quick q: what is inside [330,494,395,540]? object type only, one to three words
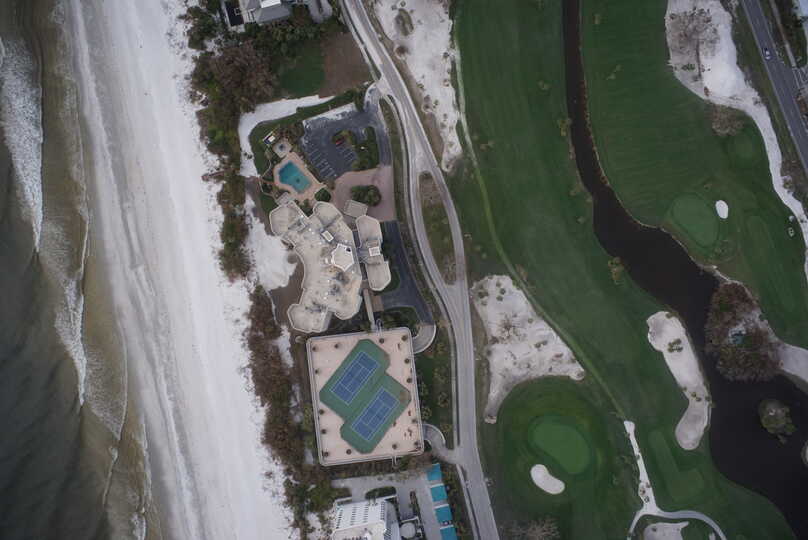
building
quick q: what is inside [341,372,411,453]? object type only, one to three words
tennis court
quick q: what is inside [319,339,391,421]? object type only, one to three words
tennis court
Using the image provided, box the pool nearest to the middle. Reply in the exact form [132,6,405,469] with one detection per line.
[273,151,327,207]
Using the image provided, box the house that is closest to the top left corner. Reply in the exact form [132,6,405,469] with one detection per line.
[221,0,298,32]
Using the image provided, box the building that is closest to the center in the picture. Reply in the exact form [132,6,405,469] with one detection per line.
[356,215,391,291]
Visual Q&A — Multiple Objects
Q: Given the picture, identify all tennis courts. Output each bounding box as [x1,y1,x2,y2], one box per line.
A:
[341,372,411,453]
[319,339,391,421]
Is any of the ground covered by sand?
Yes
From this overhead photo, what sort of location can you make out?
golf course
